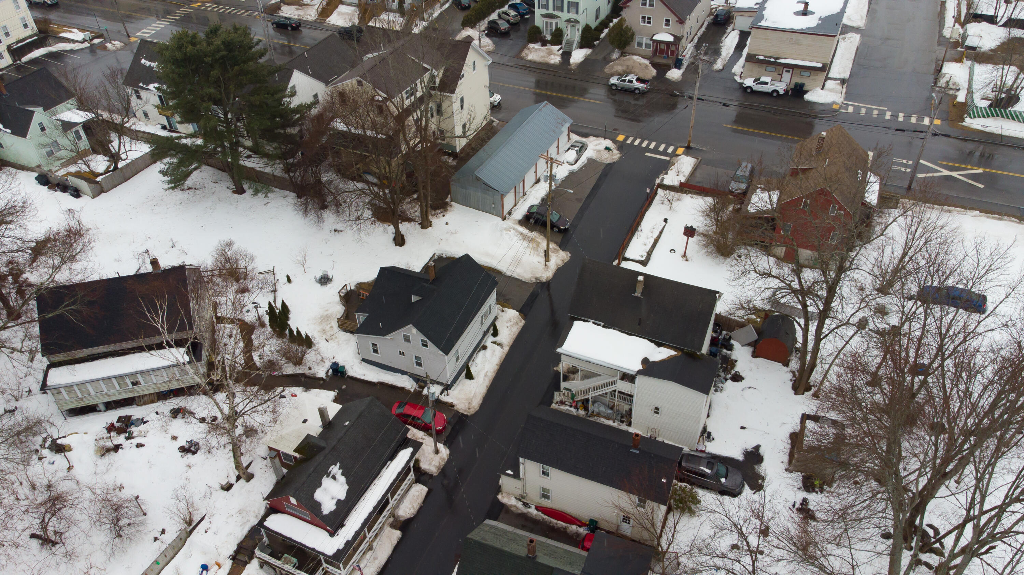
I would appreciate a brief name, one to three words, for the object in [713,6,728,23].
car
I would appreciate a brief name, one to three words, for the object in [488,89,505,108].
car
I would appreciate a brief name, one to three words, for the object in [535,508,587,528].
boat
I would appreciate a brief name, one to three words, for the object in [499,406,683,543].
house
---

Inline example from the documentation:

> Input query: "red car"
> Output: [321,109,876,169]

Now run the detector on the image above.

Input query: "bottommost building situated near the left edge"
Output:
[36,257,210,411]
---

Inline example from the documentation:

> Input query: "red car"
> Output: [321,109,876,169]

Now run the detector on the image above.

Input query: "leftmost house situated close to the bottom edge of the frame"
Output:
[254,393,424,575]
